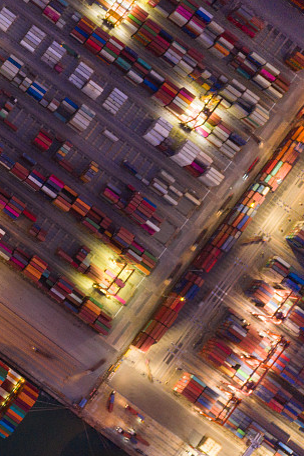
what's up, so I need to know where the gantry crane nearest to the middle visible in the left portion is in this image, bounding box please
[91,256,135,297]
